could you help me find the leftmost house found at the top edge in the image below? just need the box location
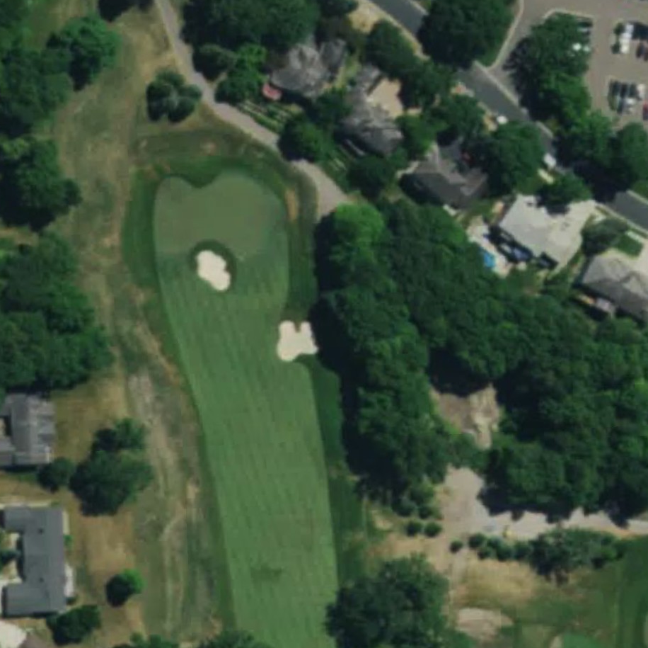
[269,31,351,97]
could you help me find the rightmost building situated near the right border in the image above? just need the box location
[578,247,648,320]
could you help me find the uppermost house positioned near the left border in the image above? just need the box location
[0,391,55,469]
